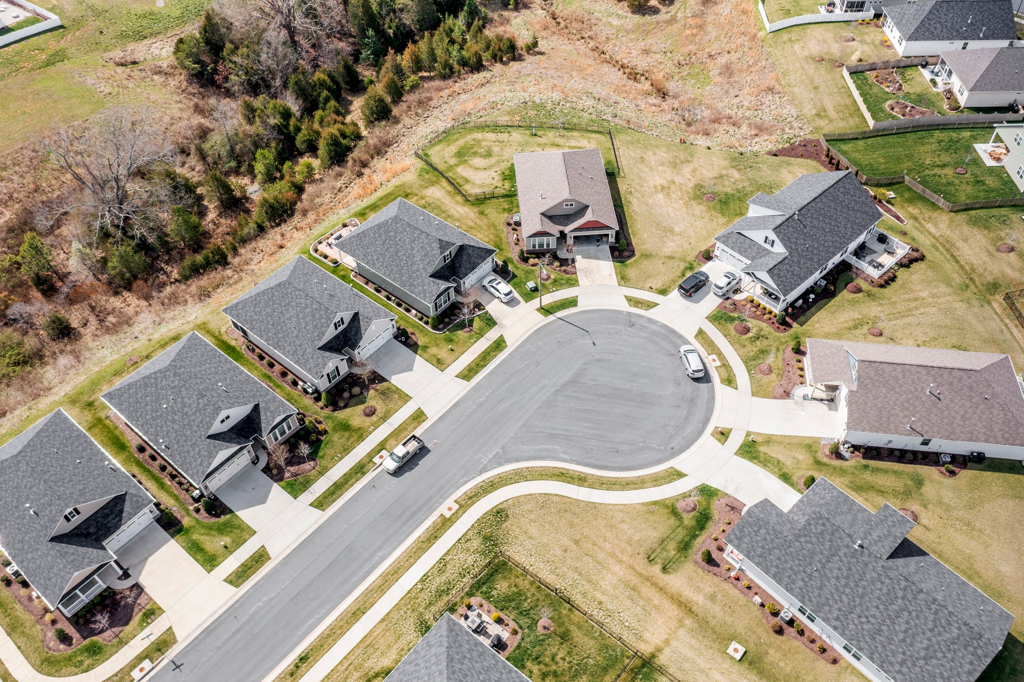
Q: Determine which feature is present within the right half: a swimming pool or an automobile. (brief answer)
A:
automobile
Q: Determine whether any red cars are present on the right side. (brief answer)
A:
No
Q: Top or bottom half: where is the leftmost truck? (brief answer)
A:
bottom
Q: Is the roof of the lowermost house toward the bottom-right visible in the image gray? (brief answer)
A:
Yes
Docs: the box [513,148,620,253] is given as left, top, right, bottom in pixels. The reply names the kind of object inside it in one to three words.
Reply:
house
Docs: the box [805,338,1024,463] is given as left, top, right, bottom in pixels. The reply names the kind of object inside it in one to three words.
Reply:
house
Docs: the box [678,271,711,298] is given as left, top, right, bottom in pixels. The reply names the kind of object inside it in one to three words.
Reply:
car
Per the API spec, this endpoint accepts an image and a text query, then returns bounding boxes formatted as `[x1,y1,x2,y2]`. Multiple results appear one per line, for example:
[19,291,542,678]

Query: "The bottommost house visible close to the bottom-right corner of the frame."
[722,476,1018,682]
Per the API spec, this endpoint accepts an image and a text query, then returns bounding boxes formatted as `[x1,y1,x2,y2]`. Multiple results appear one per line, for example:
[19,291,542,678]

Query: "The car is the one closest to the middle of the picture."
[481,276,515,304]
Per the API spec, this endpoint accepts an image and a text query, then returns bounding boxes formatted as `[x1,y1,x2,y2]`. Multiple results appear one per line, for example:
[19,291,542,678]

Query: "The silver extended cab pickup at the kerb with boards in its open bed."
[379,434,425,476]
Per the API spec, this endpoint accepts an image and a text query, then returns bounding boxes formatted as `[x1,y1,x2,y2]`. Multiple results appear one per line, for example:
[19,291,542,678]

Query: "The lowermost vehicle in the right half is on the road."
[678,345,706,380]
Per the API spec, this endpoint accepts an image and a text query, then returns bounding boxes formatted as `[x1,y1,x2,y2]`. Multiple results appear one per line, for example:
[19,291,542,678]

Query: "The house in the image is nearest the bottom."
[382,613,530,682]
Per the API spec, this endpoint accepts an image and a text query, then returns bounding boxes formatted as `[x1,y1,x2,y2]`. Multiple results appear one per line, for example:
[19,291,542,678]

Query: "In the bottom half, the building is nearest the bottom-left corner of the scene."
[0,407,162,619]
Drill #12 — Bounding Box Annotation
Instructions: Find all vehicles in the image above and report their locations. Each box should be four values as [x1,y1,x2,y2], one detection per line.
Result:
[678,345,706,380]
[481,276,515,304]
[710,270,743,297]
[678,271,711,298]
[379,434,425,476]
